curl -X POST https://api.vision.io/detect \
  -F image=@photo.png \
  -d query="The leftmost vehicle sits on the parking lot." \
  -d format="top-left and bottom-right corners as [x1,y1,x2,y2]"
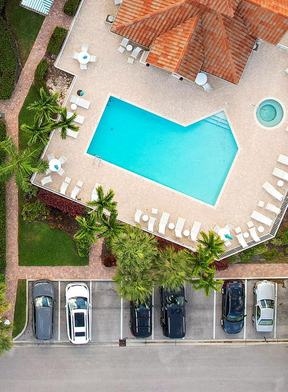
[30,280,57,339]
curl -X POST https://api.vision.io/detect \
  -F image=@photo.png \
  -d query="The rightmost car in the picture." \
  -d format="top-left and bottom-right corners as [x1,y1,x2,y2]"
[251,277,278,332]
